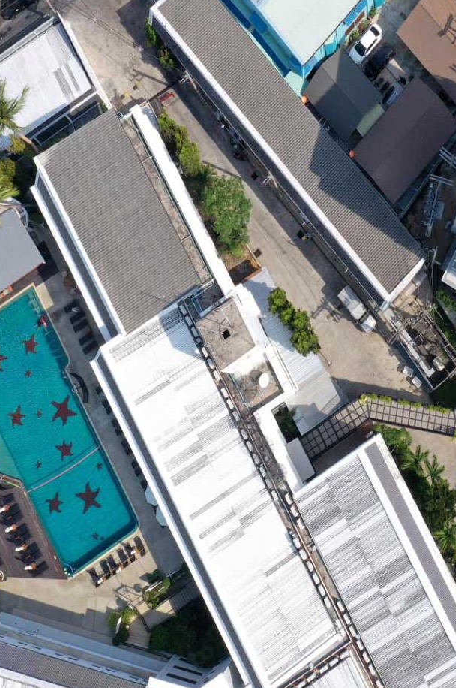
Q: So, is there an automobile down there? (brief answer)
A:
Yes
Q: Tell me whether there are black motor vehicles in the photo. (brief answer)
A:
Yes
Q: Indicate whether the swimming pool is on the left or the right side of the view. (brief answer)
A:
left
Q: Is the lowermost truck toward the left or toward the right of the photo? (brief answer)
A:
right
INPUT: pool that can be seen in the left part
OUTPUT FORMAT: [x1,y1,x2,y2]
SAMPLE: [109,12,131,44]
[0,281,139,579]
